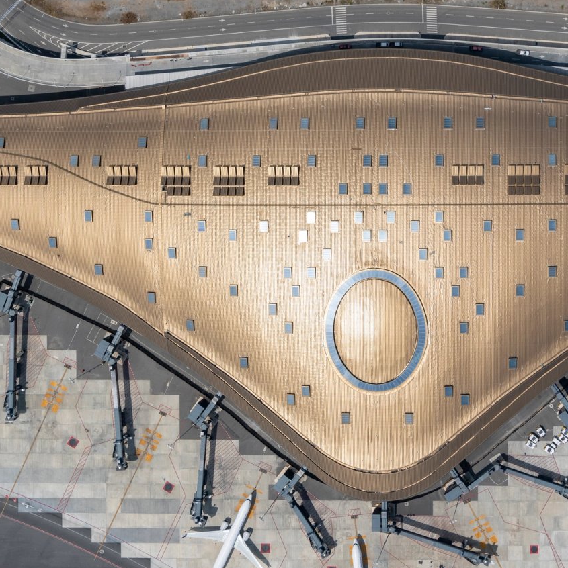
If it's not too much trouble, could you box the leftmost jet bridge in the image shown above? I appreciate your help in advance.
[0,270,28,425]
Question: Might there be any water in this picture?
No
